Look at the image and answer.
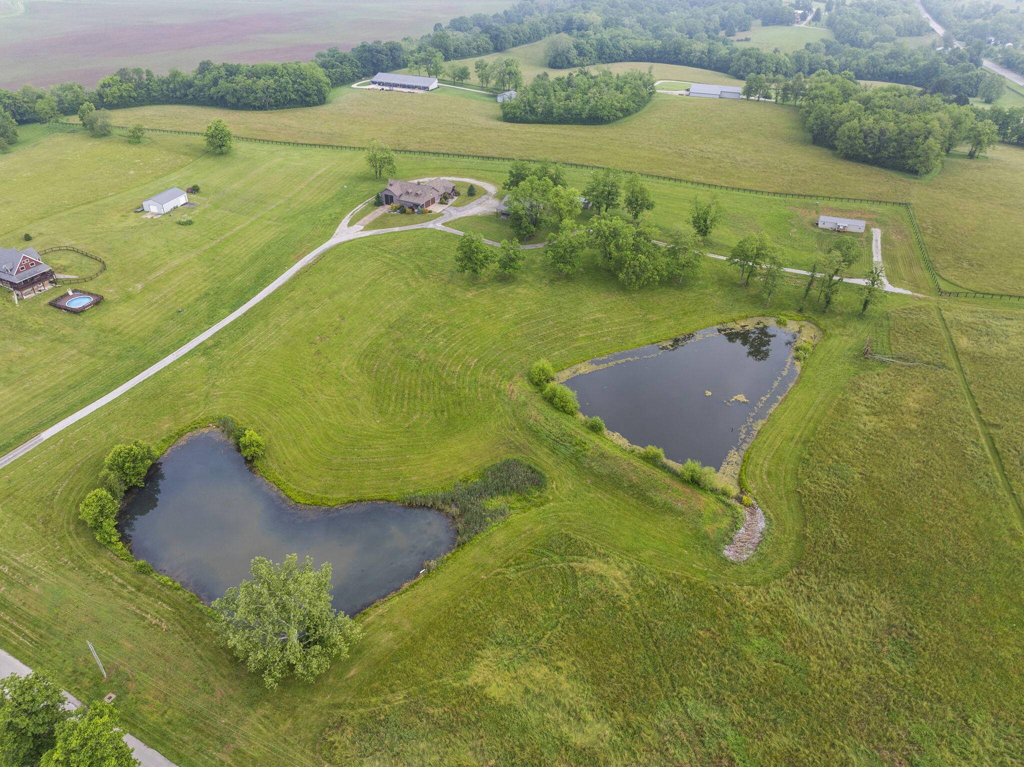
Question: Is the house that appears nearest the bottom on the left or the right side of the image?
left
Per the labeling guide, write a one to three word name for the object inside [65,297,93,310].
swimming pool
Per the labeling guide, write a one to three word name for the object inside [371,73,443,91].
barn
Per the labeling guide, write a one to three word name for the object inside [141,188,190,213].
building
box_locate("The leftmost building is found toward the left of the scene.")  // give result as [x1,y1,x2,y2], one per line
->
[0,246,61,303]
